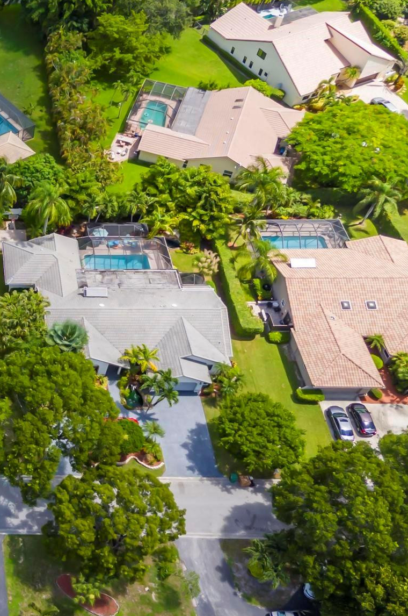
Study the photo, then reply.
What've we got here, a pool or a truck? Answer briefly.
pool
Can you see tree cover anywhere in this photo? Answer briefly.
Yes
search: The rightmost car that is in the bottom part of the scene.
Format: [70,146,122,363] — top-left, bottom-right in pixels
[348,403,377,436]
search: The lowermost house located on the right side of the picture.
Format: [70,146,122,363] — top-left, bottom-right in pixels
[274,234,408,398]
